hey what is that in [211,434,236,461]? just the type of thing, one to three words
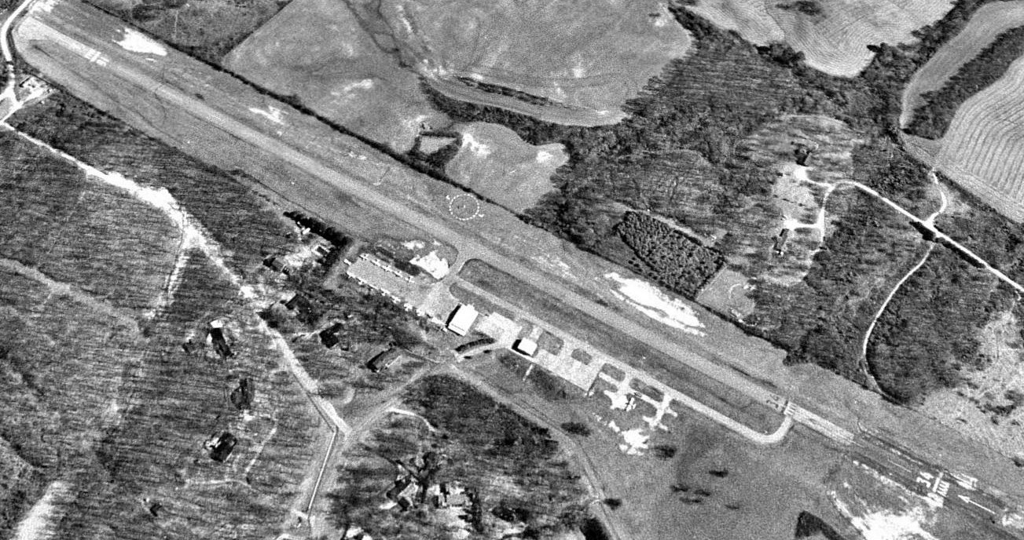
house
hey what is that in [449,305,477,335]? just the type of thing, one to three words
hangar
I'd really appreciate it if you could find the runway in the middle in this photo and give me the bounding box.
[32,18,788,414]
